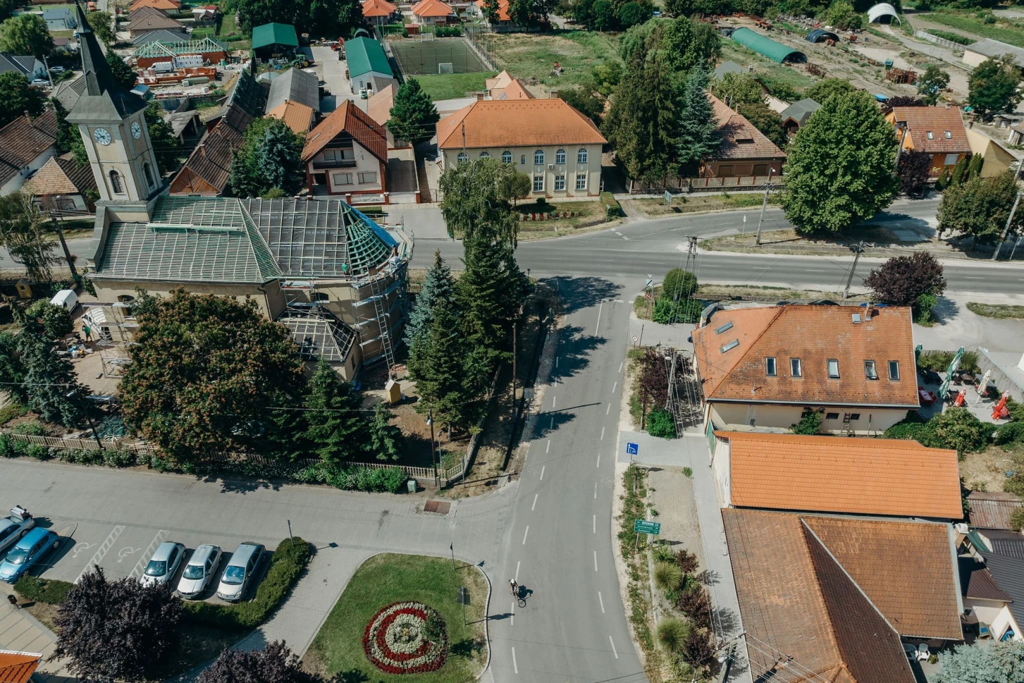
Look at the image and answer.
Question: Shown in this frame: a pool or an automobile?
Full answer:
It is an automobile that can be seen here.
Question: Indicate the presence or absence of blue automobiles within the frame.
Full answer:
Yes, there's a blue automobile here.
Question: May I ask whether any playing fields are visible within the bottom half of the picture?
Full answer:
No, there is no playing field within the bottom half of the picture.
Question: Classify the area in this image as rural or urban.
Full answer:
The land in this view is best described as urban.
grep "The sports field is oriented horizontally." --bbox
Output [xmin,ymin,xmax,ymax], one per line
[387,39,493,75]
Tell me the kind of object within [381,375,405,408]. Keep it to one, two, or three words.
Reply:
shed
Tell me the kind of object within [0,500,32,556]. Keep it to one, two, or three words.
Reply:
car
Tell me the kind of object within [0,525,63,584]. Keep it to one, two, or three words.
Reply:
car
